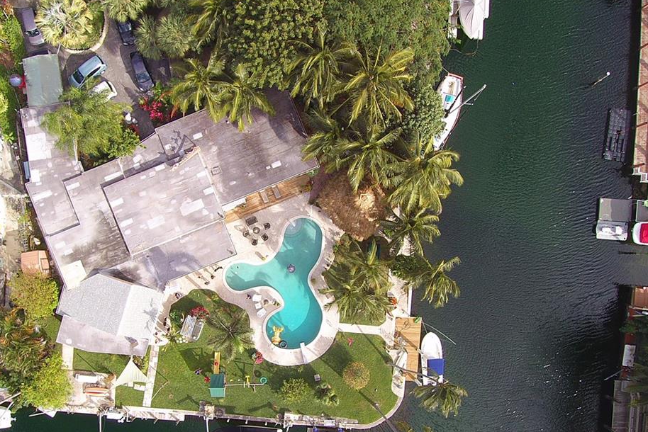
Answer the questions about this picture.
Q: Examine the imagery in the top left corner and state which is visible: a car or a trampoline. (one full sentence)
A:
The feature located in the top left corner is a car.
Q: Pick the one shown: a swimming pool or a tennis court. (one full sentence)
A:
I can see a swimming pool in this picture.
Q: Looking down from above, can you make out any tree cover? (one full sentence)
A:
Yes, the picture does contain tree cover.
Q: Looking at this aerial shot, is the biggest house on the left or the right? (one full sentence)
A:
You can find the biggest house on the left side of the picture.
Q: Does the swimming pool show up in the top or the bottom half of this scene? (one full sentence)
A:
The swimming pool is in the bottom half of the image.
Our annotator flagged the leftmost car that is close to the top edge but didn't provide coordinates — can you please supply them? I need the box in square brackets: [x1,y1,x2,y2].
[17,4,45,48]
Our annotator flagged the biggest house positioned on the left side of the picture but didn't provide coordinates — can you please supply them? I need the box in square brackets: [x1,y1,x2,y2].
[20,90,319,356]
